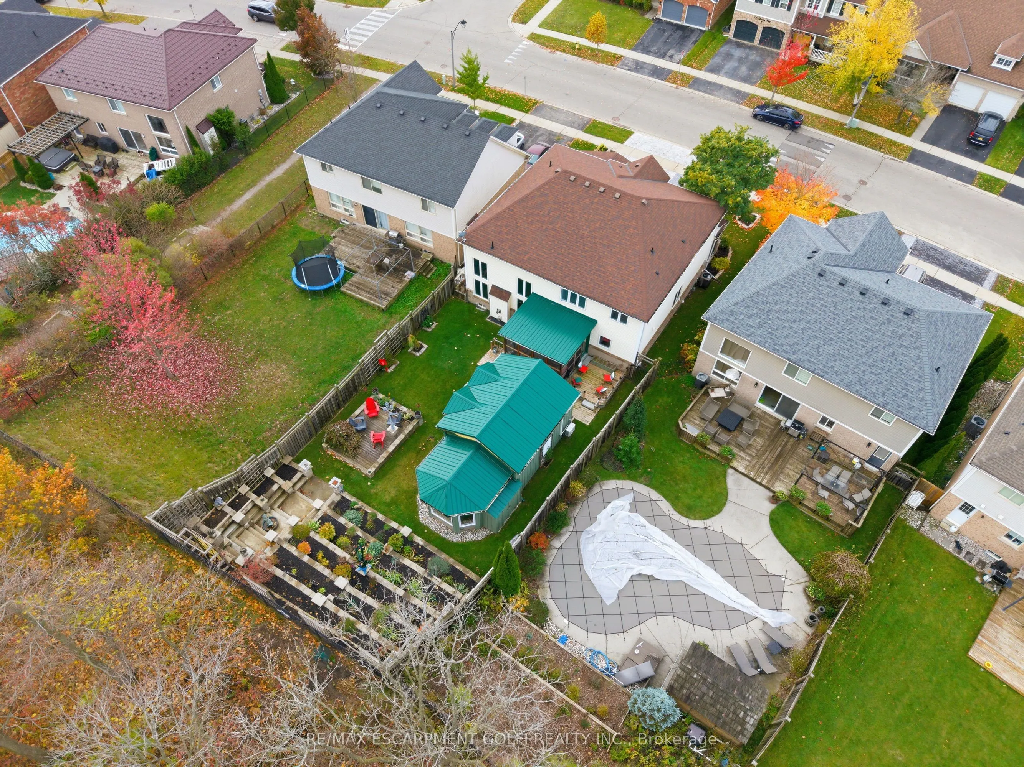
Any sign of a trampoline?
Yes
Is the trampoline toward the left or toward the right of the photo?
left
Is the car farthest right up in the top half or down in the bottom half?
top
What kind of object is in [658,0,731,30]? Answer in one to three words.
house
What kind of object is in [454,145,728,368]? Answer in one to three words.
house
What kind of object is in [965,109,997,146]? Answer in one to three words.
car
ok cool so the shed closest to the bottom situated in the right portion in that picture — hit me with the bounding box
[665,642,769,743]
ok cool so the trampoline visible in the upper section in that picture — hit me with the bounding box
[286,237,345,300]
